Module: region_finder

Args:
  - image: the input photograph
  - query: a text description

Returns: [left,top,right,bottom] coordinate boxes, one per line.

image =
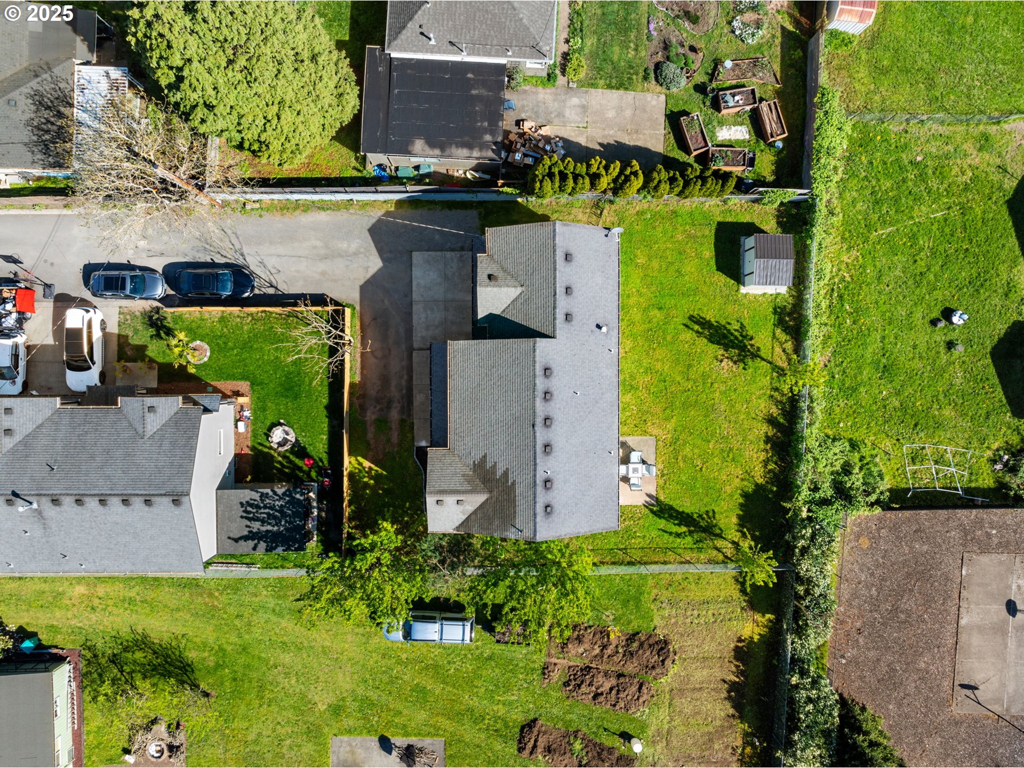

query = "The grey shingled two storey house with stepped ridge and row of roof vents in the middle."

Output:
[425,221,622,541]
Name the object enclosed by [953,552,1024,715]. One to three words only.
sports court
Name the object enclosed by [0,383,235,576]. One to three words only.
house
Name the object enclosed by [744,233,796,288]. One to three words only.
shed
